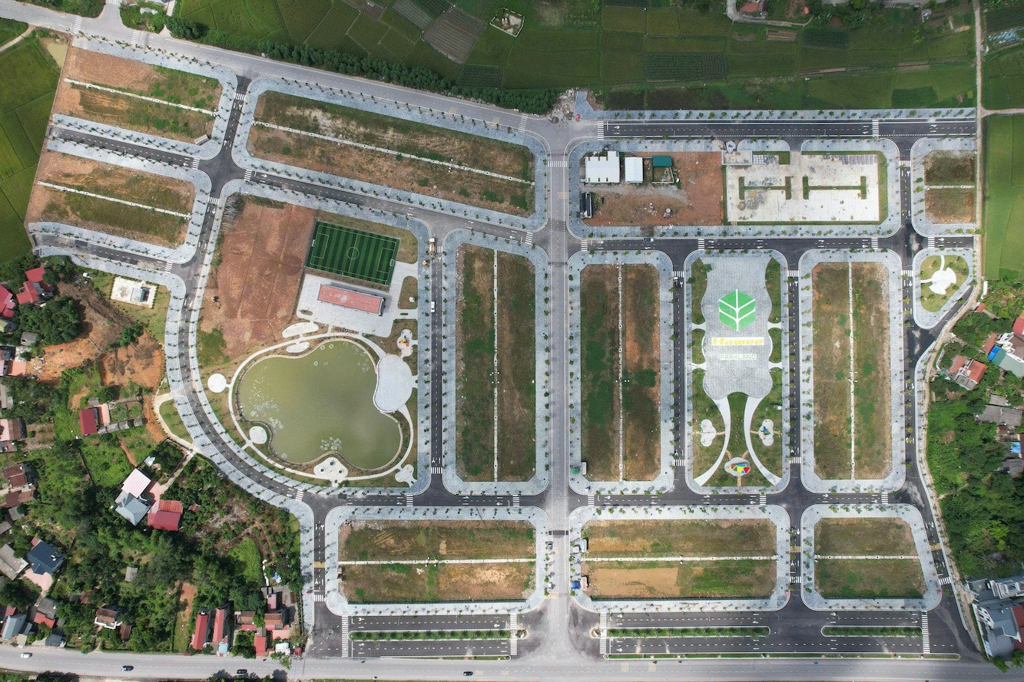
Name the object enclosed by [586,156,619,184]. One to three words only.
building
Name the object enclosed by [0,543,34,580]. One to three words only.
house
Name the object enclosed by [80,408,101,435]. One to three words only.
house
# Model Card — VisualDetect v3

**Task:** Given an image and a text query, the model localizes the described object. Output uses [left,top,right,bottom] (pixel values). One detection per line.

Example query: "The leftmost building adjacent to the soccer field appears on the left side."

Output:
[318,285,383,313]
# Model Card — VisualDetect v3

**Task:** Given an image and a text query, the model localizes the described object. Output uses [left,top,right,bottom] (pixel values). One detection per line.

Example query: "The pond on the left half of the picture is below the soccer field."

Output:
[238,340,400,469]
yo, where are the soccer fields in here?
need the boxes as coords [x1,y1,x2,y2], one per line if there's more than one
[304,220,400,286]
